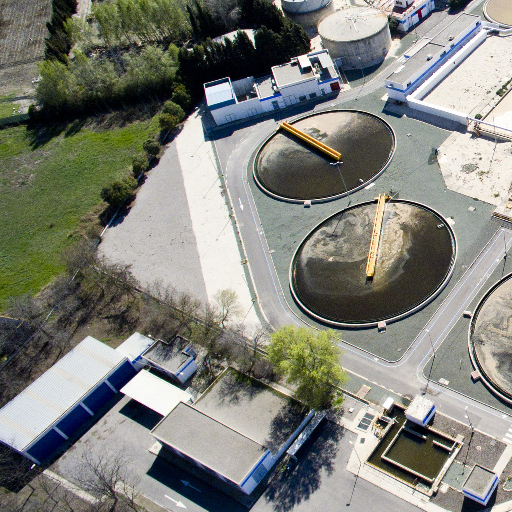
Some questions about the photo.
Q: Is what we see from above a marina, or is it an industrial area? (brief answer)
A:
industrial area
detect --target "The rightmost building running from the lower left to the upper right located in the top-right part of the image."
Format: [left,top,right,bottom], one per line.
[385,12,478,102]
